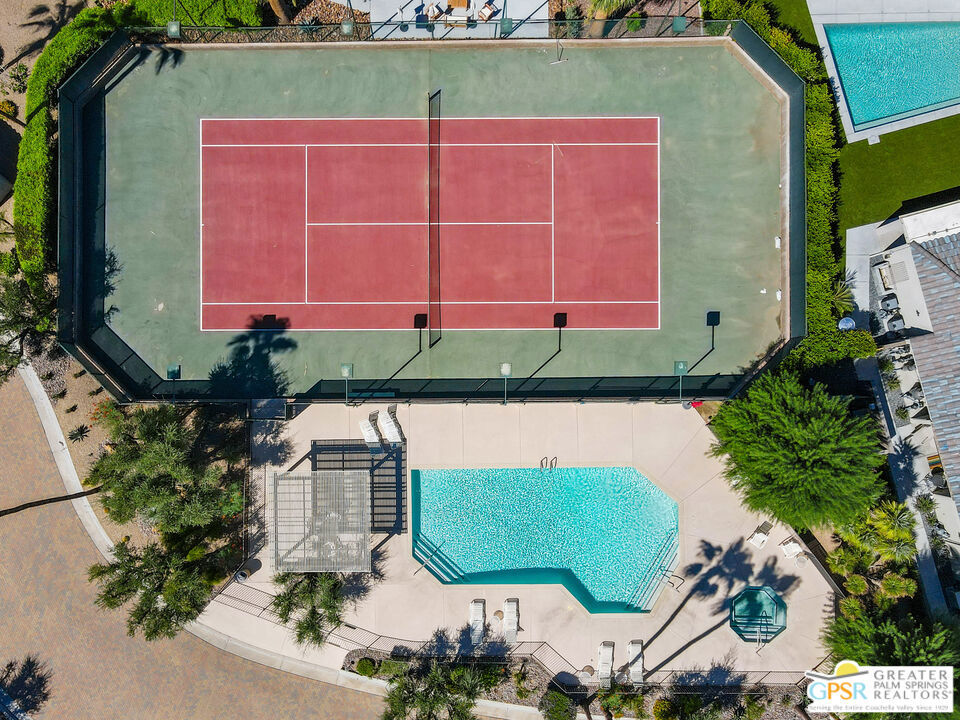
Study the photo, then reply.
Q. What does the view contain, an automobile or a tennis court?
tennis court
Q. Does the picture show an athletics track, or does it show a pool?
pool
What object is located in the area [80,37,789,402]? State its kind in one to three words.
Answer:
tennis court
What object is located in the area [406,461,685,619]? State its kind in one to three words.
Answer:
swimming pool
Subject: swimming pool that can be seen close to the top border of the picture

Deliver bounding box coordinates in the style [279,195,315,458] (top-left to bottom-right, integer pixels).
[823,22,960,130]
